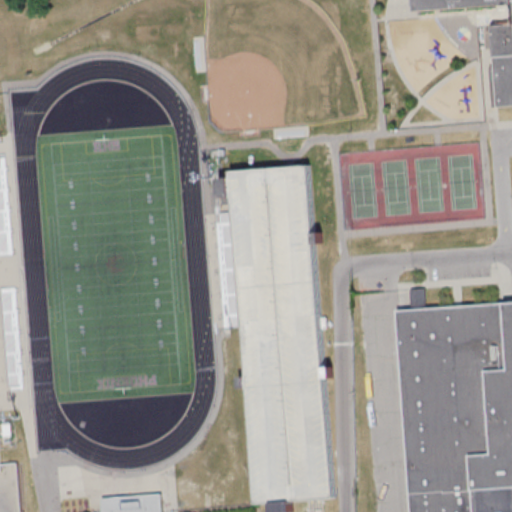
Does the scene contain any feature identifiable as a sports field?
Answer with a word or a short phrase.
Yes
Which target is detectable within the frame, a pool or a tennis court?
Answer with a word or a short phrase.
tennis court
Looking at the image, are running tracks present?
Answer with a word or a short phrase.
Yes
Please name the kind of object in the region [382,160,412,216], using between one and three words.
tennis court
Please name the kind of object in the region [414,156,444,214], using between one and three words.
tennis court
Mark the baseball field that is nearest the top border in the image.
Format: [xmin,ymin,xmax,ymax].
[206,0,365,130]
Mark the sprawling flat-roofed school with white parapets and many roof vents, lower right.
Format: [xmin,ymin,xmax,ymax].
[396,287,512,512]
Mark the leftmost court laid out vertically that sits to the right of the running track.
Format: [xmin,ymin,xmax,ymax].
[348,162,378,220]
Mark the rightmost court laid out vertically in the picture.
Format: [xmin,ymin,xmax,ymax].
[448,154,478,211]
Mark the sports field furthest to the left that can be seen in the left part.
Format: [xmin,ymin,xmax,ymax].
[38,126,195,404]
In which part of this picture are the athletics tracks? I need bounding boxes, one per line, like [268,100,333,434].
[13,62,215,466]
